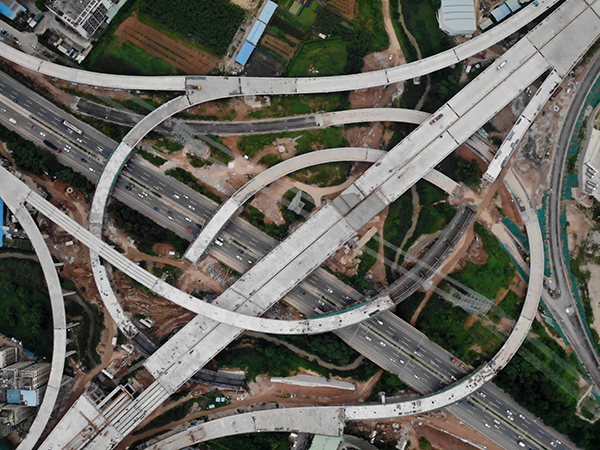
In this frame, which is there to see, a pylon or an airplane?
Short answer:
pylon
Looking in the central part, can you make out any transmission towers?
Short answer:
Yes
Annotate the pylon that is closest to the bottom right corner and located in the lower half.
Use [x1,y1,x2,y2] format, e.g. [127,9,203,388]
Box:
[435,278,492,318]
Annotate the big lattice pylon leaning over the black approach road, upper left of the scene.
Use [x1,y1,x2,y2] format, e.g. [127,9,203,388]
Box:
[173,118,218,161]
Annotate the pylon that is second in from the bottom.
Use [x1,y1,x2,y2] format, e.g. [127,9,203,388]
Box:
[285,190,308,216]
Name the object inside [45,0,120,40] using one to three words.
building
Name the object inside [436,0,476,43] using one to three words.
building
